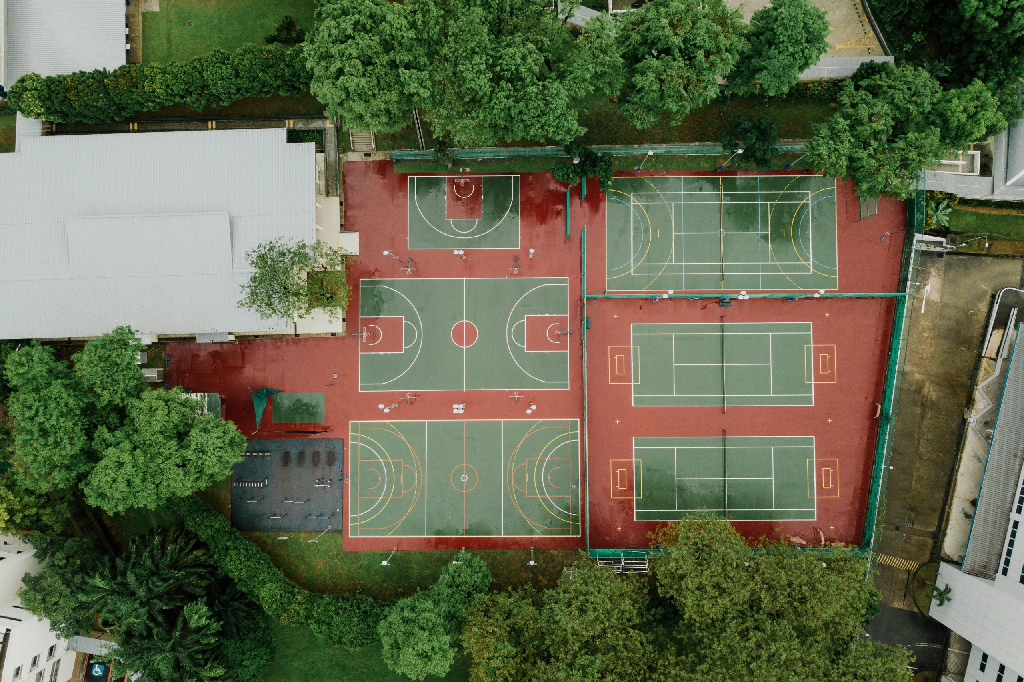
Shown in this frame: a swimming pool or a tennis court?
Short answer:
tennis court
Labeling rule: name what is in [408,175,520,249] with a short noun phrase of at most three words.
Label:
basketball court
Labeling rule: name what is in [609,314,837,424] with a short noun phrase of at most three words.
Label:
tennis court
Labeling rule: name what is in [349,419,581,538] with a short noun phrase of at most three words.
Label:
sports court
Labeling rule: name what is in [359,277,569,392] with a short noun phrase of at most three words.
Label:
basketball court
